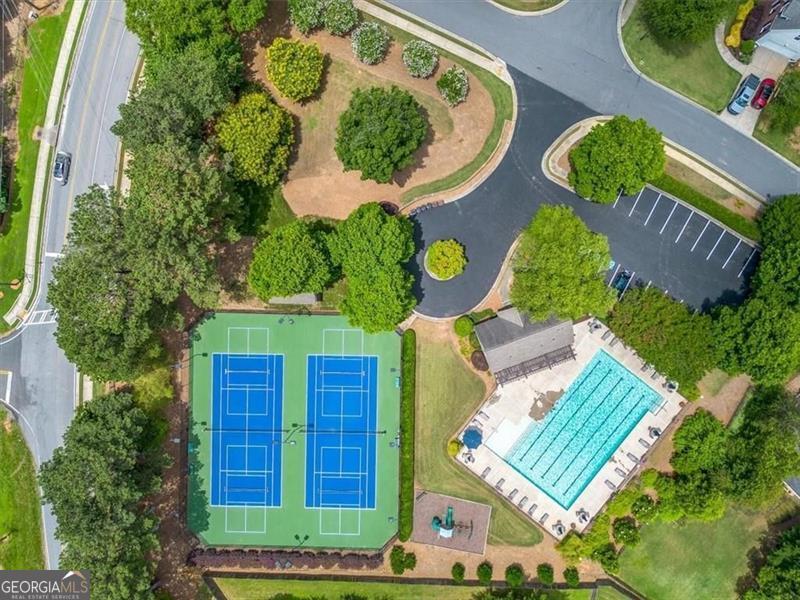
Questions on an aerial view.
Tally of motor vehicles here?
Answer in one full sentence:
My tally gives 4 motor vehicles in this view.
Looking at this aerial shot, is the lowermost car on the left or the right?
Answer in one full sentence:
The lowermost car sits on the right side.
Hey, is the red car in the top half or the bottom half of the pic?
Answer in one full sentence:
You can find the red car in the top half.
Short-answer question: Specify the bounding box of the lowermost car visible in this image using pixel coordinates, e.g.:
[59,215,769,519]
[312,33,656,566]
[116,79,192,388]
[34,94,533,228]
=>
[612,269,634,299]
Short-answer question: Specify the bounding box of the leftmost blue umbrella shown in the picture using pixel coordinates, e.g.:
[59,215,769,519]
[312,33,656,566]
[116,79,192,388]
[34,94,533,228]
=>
[462,427,482,447]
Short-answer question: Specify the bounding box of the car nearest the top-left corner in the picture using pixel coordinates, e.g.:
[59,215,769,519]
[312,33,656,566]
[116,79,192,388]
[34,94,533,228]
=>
[51,151,71,184]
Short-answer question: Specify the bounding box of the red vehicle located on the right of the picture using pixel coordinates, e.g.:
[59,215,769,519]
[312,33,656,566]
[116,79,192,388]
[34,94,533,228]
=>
[754,77,777,110]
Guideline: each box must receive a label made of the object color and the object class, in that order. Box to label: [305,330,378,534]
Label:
blue tennis court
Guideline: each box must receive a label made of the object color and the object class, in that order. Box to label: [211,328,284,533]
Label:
blue tennis court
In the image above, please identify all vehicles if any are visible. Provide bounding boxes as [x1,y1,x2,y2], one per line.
[754,77,777,110]
[730,73,762,113]
[612,269,634,299]
[51,151,71,184]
